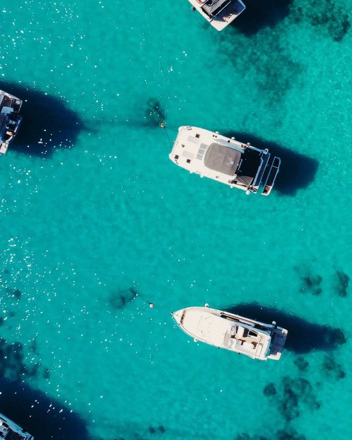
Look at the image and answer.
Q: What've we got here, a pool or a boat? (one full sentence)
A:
It is a boat that can be seen here.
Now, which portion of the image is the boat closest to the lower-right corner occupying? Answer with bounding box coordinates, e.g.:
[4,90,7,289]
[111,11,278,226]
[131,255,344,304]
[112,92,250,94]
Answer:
[153,304,287,360]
